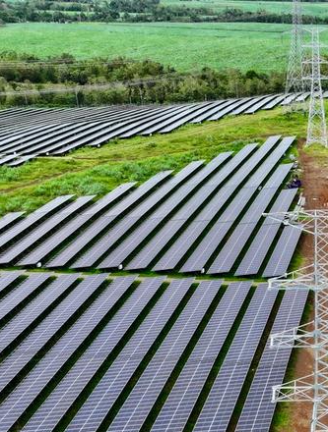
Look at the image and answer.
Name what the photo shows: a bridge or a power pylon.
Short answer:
power pylon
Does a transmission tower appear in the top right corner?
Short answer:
Yes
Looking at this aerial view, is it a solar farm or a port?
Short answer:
solar farm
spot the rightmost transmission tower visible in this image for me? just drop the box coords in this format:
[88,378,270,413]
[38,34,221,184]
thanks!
[300,19,328,146]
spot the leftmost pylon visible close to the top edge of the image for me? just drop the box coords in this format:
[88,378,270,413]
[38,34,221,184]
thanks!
[280,0,305,97]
